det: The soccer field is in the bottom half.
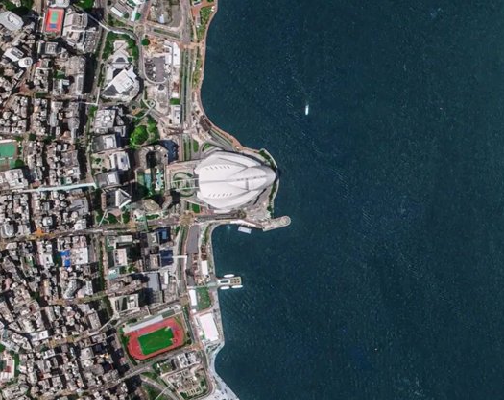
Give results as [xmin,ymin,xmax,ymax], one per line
[135,326,172,355]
